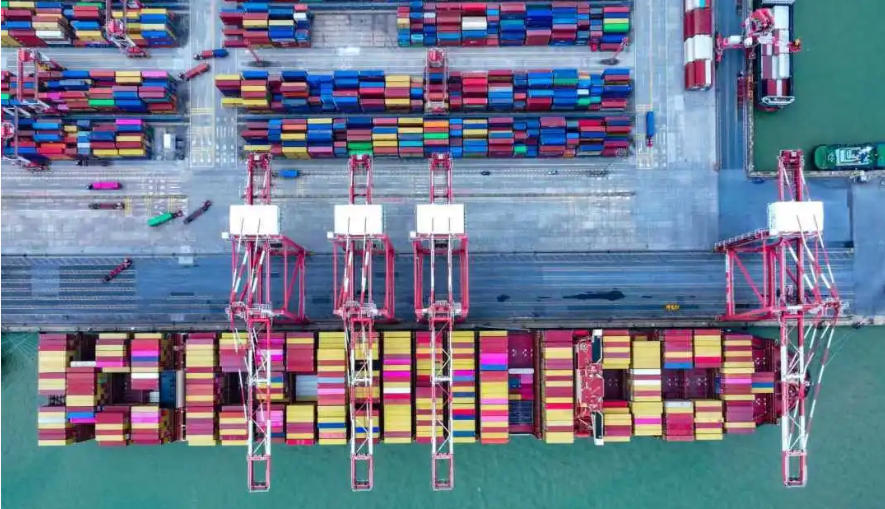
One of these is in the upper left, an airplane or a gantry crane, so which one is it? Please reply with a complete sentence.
Visible in the upper left is a gantry crane.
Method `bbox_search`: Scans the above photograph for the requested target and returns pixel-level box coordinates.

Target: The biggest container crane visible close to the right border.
[714,152,849,492]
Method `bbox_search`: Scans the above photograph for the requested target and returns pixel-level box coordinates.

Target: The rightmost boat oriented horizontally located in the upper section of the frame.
[812,145,874,170]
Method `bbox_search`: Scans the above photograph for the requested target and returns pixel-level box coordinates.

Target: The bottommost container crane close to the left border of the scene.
[0,99,46,165]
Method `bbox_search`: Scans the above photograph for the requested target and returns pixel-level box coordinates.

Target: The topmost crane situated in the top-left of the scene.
[103,0,150,53]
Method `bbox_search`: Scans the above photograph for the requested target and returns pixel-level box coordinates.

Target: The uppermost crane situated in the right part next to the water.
[716,9,800,60]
